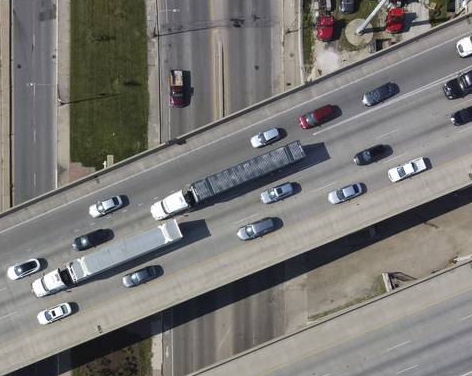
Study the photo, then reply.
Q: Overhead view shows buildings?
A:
No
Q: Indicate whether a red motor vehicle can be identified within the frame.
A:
Yes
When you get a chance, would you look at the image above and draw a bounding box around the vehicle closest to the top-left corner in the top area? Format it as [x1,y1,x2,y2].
[170,69,186,109]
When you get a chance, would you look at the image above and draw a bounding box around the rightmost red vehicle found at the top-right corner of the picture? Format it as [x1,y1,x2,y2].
[385,6,403,38]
